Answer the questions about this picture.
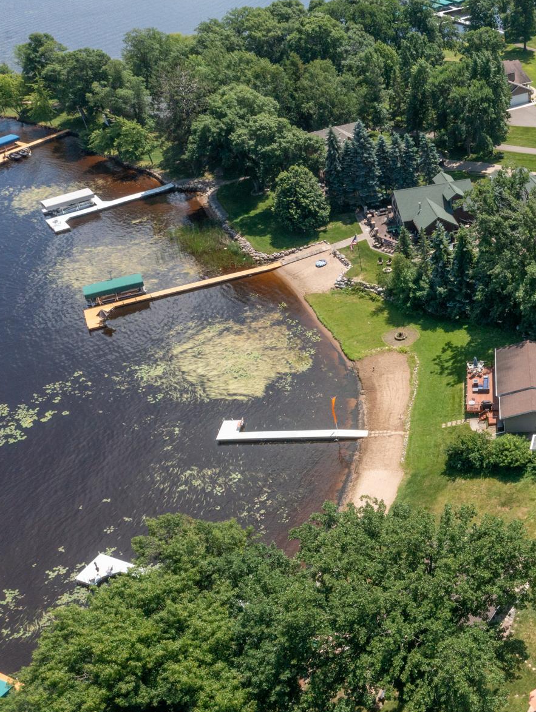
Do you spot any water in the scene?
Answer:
Yes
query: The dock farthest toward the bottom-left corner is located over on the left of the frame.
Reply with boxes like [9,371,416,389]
[74,552,150,590]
